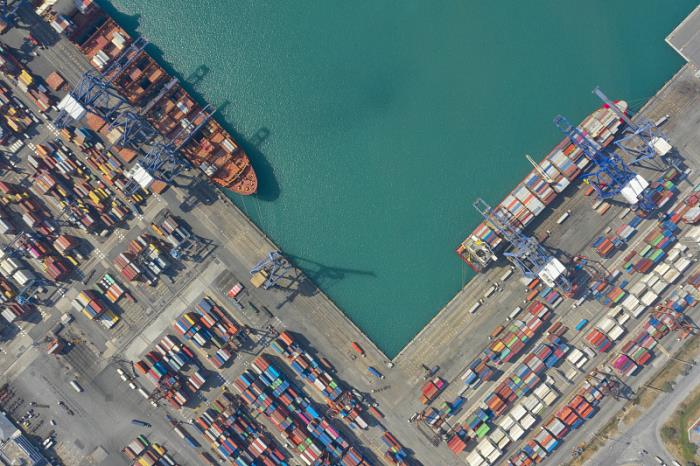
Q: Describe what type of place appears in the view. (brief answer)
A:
port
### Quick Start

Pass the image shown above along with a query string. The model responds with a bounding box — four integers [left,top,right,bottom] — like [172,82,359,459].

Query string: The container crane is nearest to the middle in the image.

[239,244,296,299]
